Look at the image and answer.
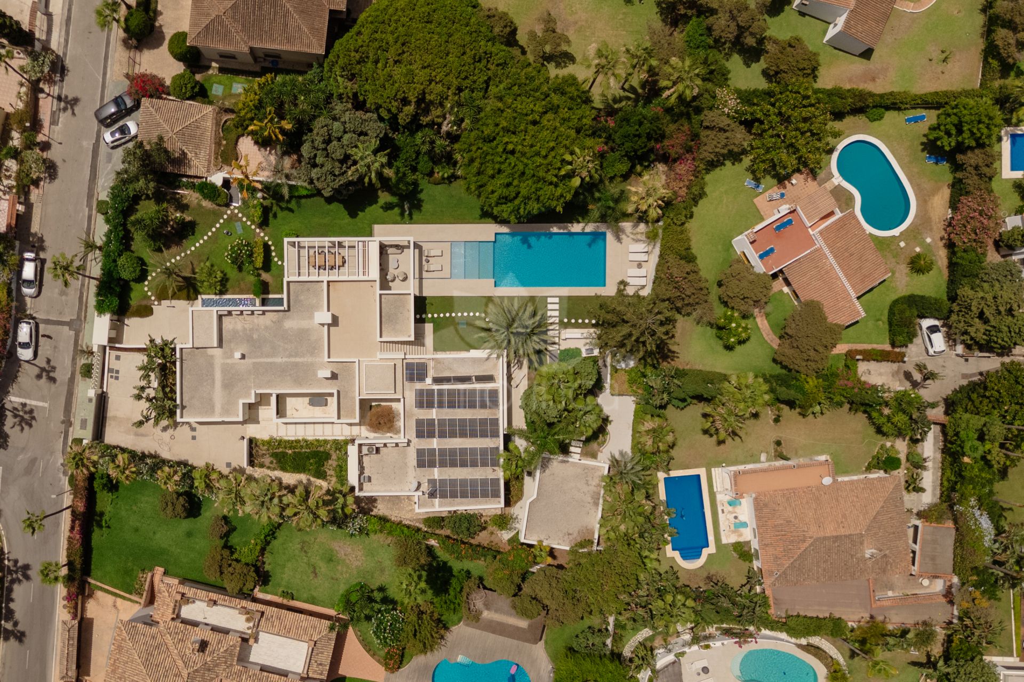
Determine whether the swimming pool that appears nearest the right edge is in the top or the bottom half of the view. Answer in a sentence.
Seen from above, the swimming pool that appears nearest the right edge lies in the top half of the view.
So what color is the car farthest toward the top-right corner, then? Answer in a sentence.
The color of the car farthest toward the top-right corner is white.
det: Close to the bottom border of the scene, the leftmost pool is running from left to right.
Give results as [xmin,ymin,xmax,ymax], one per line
[433,659,531,682]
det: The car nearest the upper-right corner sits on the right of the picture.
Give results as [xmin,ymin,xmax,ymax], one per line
[917,319,945,359]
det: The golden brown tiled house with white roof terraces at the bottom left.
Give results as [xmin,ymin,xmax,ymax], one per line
[105,567,339,682]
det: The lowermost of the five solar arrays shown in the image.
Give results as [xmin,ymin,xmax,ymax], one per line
[428,479,499,498]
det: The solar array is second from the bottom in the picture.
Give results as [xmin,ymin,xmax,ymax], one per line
[417,448,499,468]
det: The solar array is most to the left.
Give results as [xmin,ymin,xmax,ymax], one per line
[406,362,426,382]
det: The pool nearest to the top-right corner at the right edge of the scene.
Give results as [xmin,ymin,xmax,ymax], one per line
[1001,126,1024,179]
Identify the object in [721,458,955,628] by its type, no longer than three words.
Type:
house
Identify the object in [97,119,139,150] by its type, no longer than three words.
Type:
car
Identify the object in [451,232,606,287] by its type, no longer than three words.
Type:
swimming pool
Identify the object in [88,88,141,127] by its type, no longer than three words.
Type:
car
